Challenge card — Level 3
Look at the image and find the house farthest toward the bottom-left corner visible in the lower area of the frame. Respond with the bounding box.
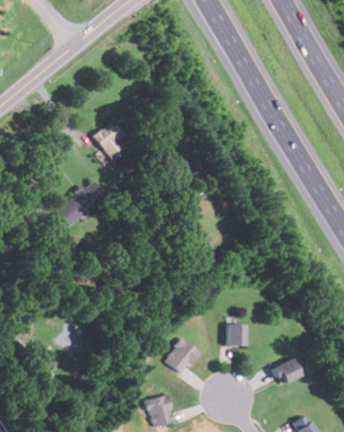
[144,390,174,428]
